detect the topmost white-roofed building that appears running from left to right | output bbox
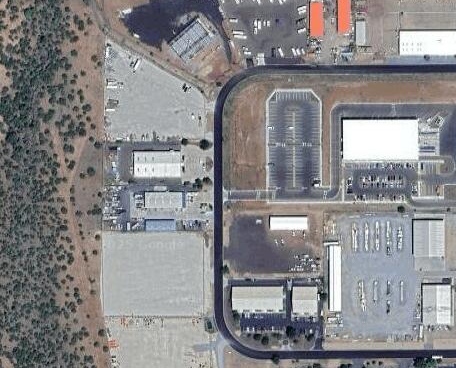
[399,29,456,57]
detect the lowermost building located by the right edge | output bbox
[422,283,451,325]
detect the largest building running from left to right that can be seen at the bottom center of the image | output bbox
[231,287,283,312]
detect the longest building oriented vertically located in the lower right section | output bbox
[328,246,341,311]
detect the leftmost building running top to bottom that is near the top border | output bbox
[310,1,323,38]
